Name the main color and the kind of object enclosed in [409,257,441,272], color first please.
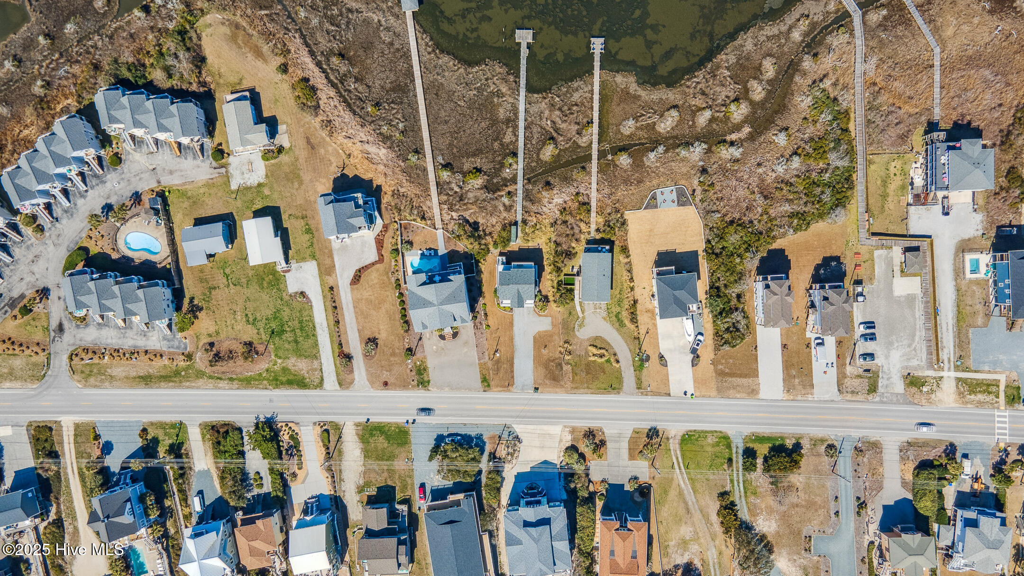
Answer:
blue swimming pool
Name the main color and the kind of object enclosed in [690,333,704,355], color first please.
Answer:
white vehicle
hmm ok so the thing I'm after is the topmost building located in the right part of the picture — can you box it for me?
[910,131,995,206]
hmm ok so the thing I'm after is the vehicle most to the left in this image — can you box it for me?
[193,492,205,511]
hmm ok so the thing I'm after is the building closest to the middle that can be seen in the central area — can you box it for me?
[496,257,538,308]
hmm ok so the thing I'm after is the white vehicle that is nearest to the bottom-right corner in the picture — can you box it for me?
[958,456,971,477]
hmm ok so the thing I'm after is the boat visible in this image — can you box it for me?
[682,314,694,341]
